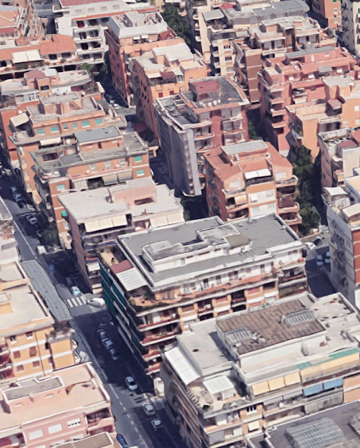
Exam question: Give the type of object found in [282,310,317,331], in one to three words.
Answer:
solar panel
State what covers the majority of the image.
buildings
